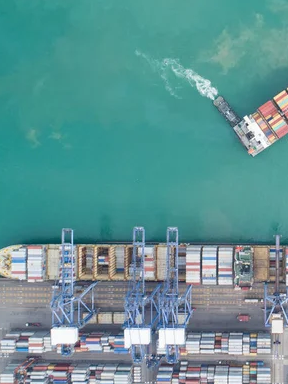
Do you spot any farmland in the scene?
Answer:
No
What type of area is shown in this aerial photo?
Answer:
port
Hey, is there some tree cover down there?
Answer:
No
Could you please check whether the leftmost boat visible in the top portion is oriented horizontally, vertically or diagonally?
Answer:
diagonally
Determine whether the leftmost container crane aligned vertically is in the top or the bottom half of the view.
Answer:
bottom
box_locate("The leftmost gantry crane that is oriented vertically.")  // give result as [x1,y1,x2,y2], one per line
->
[50,227,107,359]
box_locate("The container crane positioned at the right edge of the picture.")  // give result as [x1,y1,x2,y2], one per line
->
[260,235,288,362]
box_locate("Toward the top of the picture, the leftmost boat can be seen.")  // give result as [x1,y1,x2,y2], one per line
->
[211,97,239,127]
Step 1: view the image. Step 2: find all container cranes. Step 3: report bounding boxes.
[123,226,170,364]
[158,226,201,365]
[260,235,288,362]
[50,227,107,359]
[14,358,40,384]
